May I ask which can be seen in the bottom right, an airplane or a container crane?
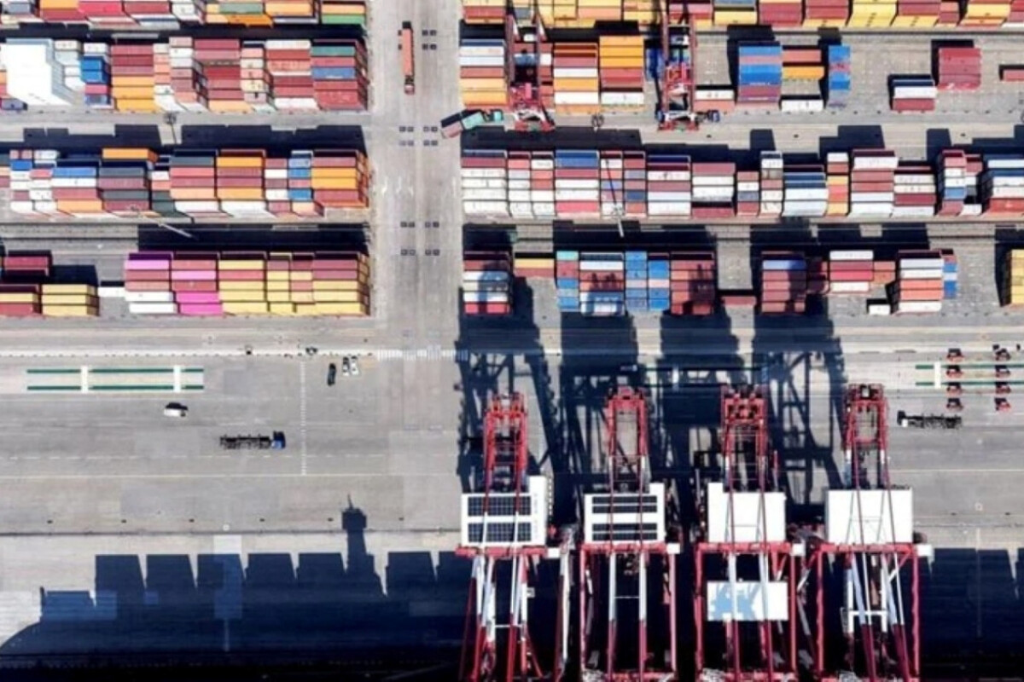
container crane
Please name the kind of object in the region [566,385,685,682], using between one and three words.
container crane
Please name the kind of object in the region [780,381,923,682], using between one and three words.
container crane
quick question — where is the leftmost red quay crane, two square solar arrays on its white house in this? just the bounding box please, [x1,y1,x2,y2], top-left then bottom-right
[447,391,585,682]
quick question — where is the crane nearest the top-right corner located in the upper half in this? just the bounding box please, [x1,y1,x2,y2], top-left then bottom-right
[654,7,702,127]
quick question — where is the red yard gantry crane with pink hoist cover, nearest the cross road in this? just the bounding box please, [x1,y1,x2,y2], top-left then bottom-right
[507,8,558,128]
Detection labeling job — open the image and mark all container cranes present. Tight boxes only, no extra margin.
[679,382,802,682]
[780,381,923,682]
[566,385,685,682]
[507,8,558,128]
[654,7,702,127]
[447,391,585,682]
